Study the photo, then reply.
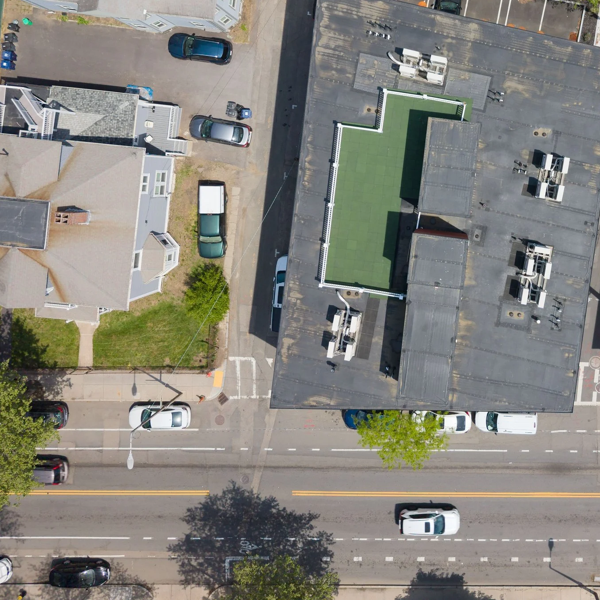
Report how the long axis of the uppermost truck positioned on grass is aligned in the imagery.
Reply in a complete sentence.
I'd say the uppermost truck positioned on grass is aligned from top to bottom in the picture.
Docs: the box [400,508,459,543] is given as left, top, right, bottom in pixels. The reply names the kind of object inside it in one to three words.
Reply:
car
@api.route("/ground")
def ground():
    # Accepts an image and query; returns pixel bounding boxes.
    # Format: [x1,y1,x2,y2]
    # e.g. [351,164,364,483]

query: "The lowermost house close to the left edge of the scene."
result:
[0,82,192,323]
